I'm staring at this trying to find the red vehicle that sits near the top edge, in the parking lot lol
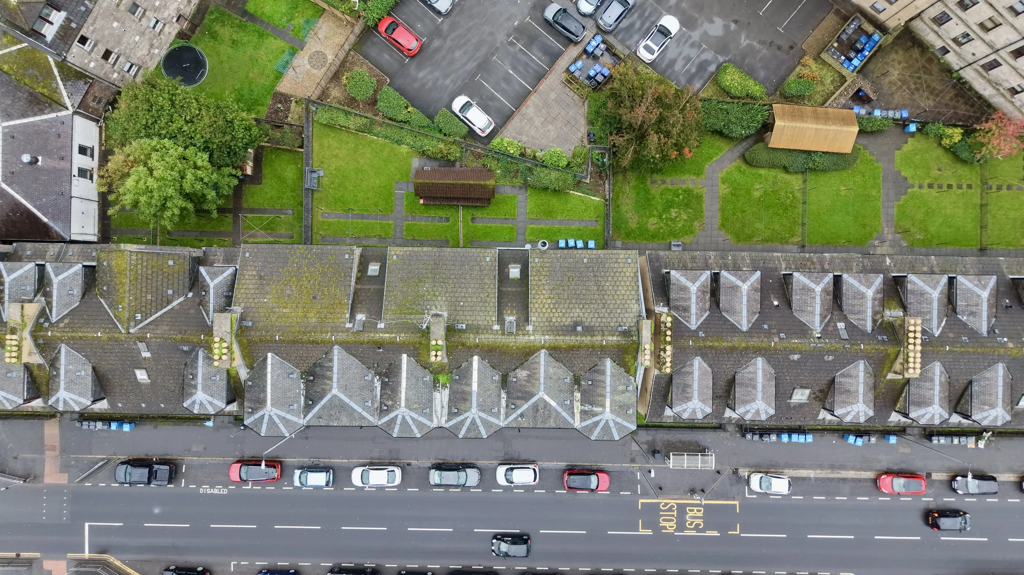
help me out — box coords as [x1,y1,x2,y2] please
[377,17,423,58]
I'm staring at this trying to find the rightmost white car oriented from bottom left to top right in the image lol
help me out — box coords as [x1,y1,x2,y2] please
[637,15,678,65]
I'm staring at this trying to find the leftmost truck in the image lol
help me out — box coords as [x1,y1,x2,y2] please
[115,461,177,488]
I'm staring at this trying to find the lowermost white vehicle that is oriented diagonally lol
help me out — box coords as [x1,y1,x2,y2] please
[452,94,496,139]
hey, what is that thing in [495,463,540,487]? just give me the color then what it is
white car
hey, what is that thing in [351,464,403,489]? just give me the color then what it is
white car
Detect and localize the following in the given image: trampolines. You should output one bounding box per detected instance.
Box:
[161,39,210,87]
